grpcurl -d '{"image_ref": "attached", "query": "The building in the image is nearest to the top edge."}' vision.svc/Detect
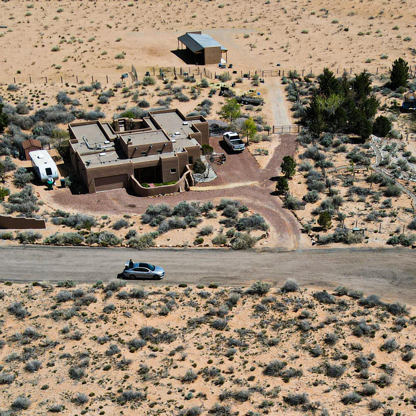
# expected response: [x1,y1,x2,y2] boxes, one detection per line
[177,28,228,65]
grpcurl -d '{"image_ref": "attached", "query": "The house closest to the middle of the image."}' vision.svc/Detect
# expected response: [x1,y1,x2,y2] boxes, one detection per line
[69,109,209,195]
